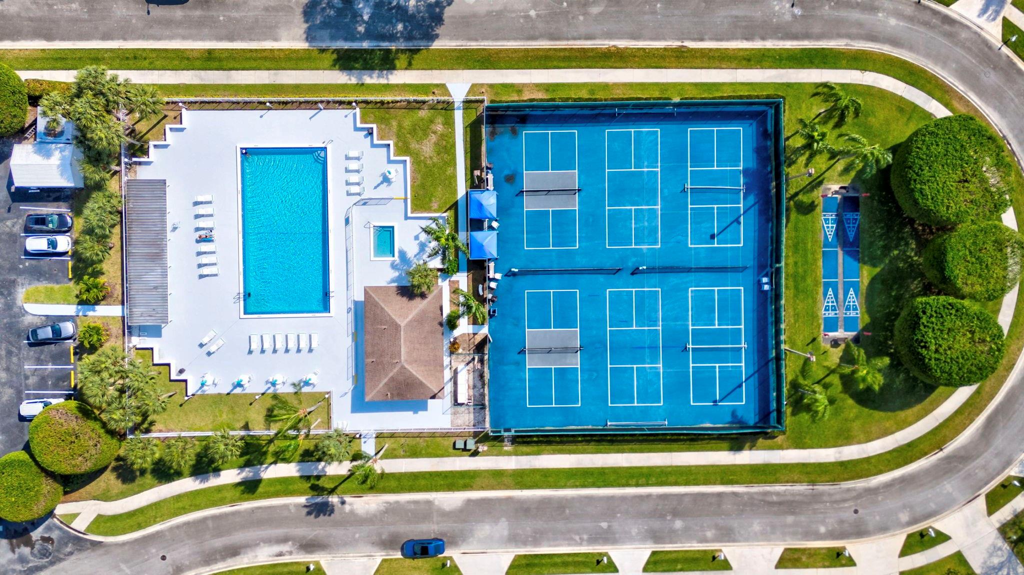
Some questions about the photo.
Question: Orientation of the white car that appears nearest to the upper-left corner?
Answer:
from left to right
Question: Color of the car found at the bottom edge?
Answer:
blue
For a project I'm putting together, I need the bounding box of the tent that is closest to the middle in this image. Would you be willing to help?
[470,230,498,260]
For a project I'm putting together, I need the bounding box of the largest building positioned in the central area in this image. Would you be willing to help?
[363,285,445,402]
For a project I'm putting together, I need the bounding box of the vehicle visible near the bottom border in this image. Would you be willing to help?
[402,537,444,558]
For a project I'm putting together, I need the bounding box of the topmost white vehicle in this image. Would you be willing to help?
[29,234,73,254]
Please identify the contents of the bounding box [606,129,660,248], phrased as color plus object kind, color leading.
blue sports court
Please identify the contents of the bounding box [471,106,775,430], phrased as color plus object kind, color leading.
blue tennis court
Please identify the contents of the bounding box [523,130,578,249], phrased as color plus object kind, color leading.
blue sports court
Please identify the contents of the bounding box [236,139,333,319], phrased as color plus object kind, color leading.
blue swimming pool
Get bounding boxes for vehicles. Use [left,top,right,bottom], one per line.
[402,537,444,558]
[32,321,78,342]
[29,234,73,254]
[28,213,75,233]
[25,398,71,417]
